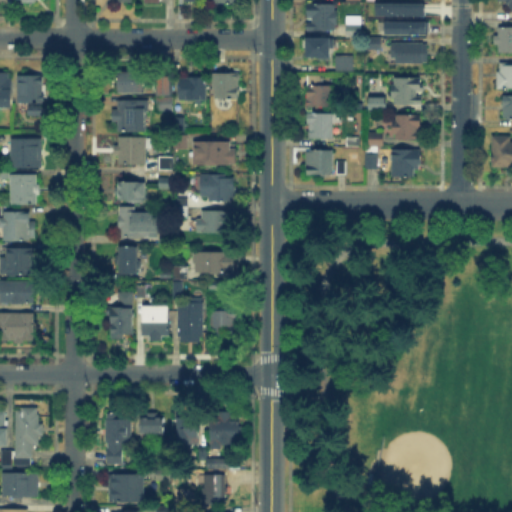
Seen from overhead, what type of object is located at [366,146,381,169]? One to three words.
building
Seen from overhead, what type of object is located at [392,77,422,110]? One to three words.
house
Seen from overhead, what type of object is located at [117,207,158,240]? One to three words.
house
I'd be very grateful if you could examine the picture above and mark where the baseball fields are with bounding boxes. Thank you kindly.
[347,252,512,512]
